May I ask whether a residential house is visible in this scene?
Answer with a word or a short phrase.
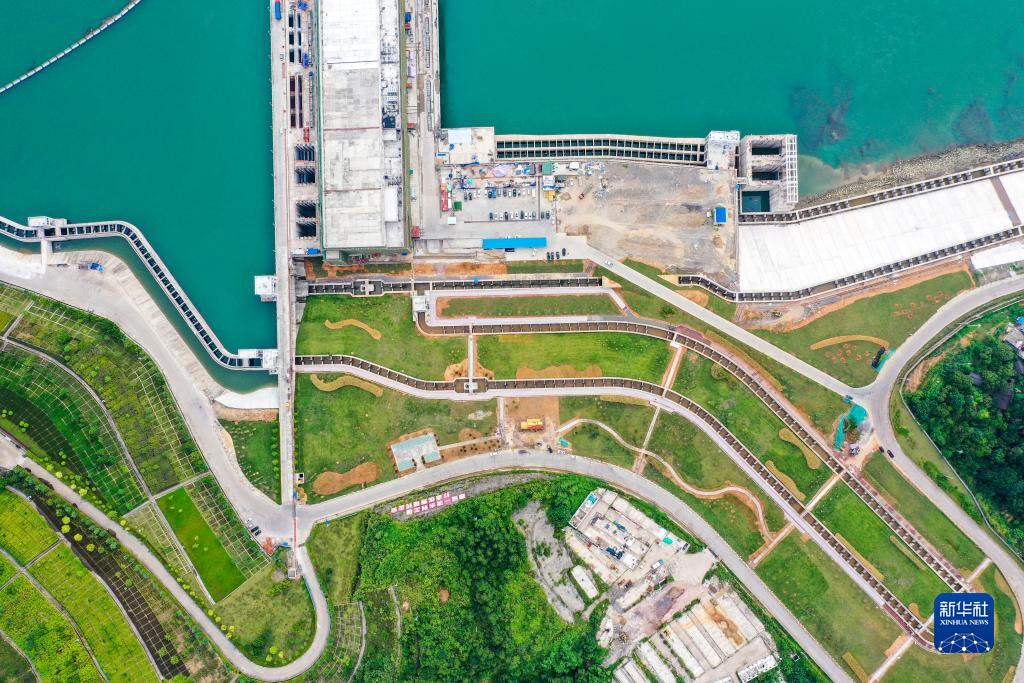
Yes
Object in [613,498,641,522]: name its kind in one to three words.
shed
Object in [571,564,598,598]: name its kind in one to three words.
house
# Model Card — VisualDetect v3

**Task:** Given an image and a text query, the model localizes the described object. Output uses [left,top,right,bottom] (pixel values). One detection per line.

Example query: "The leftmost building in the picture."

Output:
[27,216,76,243]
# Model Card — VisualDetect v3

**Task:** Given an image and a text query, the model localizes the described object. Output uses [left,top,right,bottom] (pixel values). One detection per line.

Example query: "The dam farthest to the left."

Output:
[270,0,324,505]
